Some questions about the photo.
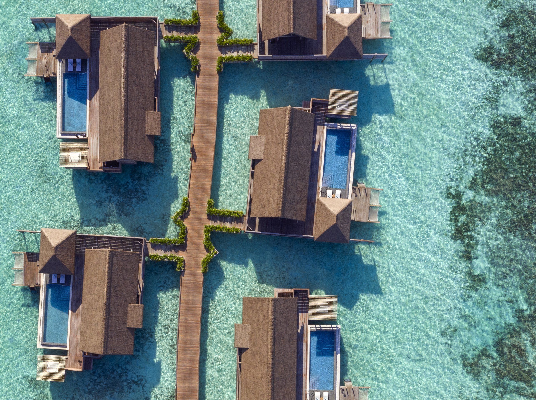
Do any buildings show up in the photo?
Yes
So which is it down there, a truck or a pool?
pool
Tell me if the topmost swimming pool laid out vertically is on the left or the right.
left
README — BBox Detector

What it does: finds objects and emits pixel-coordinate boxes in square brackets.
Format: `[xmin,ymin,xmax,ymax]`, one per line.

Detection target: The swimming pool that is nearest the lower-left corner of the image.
[35,274,72,351]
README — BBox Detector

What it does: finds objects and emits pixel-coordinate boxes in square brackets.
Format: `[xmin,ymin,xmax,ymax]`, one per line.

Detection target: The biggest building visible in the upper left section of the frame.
[58,22,162,173]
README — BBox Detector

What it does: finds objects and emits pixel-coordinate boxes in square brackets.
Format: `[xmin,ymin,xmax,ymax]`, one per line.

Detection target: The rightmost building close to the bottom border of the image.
[234,287,310,400]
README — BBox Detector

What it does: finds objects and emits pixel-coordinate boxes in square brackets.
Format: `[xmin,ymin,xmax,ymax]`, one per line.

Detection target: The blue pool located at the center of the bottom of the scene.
[307,325,341,400]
